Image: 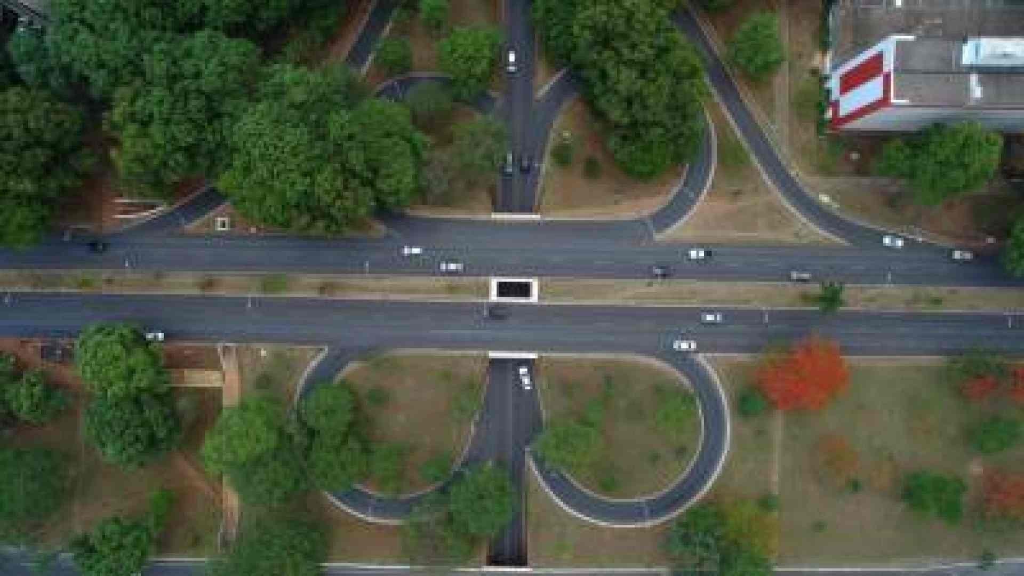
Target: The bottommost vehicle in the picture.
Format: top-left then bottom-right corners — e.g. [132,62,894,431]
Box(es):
[519,368,532,389]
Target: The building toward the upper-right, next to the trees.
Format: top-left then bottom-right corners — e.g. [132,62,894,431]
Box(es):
[836,37,1024,130]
